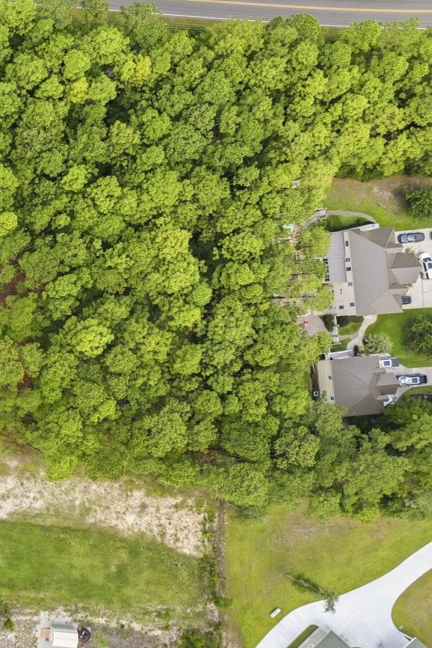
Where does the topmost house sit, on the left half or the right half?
right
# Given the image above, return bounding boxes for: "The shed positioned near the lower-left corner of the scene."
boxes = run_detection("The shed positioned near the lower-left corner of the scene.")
[47,623,78,648]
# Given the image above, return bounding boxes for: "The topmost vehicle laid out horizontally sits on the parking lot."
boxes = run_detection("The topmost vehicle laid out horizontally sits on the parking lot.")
[395,231,425,244]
